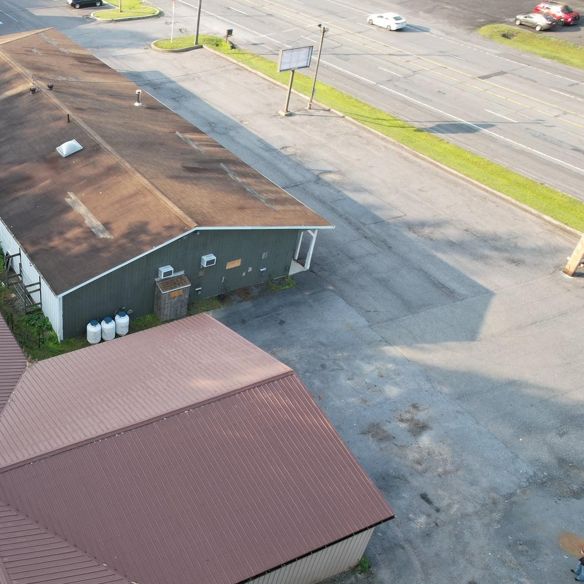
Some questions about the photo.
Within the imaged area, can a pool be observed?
No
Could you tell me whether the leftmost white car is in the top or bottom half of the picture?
top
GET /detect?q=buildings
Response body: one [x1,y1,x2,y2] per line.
[0,29,334,339]
[0,310,400,584]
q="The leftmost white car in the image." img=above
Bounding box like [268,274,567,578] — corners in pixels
[367,10,409,30]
